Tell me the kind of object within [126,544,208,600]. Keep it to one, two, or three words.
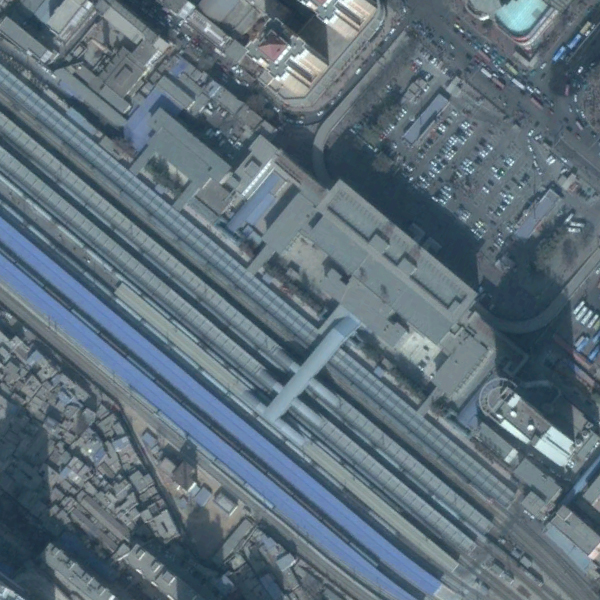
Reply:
building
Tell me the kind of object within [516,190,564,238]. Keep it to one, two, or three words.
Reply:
shed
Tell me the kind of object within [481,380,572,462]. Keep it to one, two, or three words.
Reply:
building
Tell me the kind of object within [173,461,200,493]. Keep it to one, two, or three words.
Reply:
house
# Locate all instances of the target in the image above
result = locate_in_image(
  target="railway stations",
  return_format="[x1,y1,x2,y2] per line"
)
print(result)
[247,178,500,407]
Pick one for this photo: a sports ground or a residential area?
residential area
